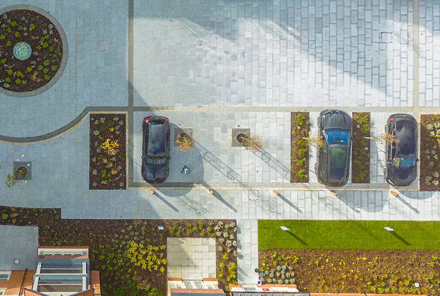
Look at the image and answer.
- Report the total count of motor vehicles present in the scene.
3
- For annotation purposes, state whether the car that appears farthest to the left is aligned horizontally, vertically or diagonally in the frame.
vertically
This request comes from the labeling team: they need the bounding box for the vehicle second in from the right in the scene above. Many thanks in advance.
[313,109,357,186]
